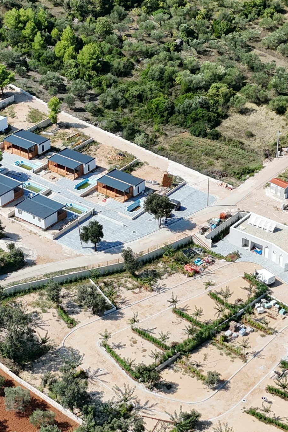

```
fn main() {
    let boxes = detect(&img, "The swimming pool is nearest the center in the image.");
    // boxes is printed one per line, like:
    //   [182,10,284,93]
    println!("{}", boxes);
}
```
[122,198,144,214]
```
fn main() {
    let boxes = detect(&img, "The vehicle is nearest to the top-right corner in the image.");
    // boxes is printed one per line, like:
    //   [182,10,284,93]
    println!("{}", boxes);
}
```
[170,197,185,210]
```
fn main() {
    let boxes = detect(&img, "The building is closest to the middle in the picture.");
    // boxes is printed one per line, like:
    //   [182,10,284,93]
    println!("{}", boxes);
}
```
[96,167,146,202]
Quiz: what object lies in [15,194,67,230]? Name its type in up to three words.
building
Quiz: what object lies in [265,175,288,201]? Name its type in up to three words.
shed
